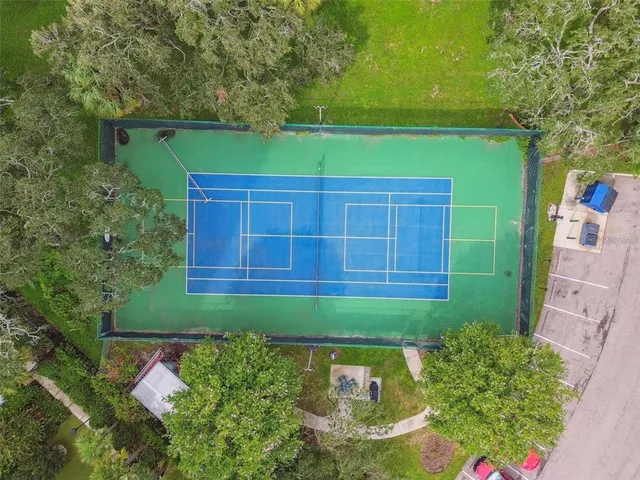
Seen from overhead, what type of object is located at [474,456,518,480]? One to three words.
car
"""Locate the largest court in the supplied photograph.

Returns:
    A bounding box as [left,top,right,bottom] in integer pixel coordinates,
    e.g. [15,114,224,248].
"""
[114,128,527,341]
